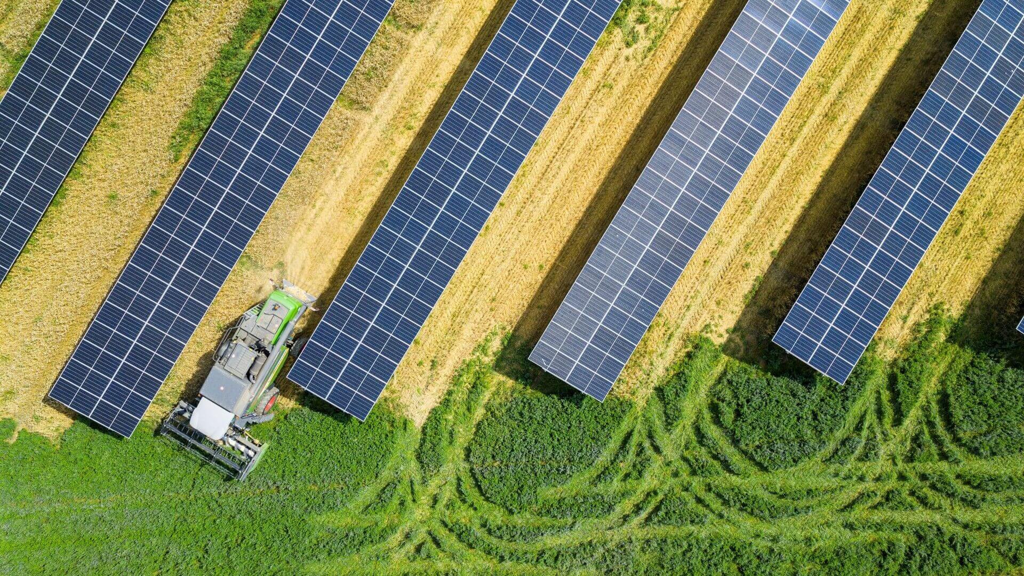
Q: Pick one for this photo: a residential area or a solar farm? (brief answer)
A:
solar farm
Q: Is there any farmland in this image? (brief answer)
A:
Yes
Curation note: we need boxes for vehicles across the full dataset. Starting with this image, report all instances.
[159,278,322,480]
